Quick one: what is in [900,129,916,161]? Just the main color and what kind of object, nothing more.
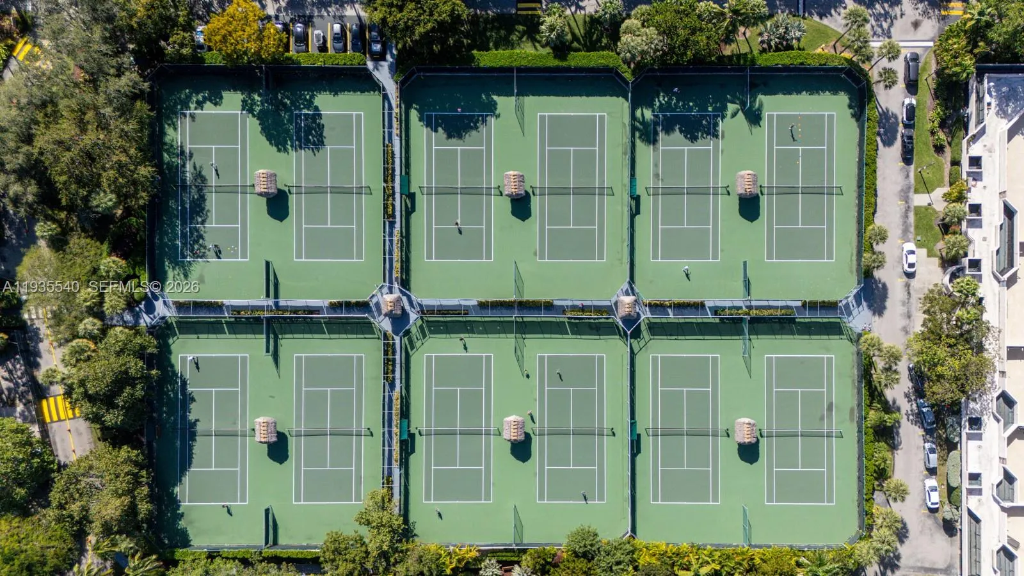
black car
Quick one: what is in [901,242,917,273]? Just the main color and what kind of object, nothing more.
white car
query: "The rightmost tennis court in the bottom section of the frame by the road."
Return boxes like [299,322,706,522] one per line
[743,317,857,545]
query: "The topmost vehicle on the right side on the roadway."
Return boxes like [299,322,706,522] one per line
[903,52,921,85]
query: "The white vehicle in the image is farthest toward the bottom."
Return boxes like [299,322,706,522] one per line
[923,478,940,509]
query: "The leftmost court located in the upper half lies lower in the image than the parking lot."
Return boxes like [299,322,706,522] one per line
[157,72,271,299]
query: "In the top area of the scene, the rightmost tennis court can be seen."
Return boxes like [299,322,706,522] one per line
[743,73,857,299]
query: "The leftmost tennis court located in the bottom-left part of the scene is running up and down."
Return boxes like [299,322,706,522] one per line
[158,316,271,545]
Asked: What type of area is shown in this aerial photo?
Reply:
sports ground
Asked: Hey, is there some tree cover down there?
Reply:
Yes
